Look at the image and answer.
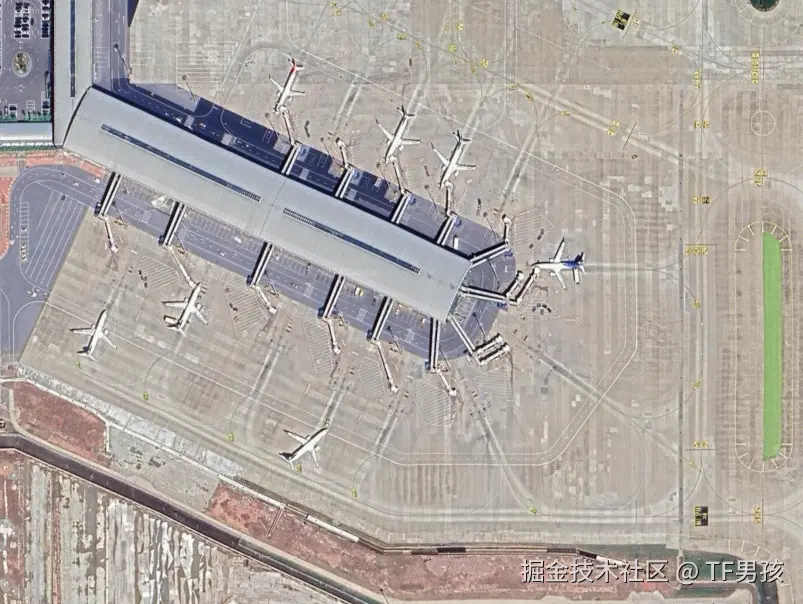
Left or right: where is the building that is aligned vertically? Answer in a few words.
left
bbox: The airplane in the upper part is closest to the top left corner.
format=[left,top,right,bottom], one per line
[265,60,311,111]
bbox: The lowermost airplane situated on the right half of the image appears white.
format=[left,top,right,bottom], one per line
[532,238,586,290]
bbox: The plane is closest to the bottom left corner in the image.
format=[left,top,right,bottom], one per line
[70,310,117,360]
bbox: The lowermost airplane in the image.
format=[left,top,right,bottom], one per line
[281,429,328,471]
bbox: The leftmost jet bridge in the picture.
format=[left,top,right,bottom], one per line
[95,173,124,253]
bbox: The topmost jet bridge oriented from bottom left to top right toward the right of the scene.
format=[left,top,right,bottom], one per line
[470,217,512,269]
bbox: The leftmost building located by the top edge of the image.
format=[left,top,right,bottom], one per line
[53,0,92,146]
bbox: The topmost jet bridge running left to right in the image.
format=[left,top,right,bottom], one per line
[459,267,540,309]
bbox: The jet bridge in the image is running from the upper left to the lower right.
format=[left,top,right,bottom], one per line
[449,315,511,366]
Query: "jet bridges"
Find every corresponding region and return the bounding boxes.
[95,173,124,253]
[390,155,415,225]
[279,104,306,176]
[159,202,197,289]
[246,241,277,313]
[449,315,511,366]
[424,317,456,395]
[459,267,540,309]
[366,297,398,392]
[470,217,512,269]
[336,139,360,200]
[437,181,461,246]
[318,273,347,353]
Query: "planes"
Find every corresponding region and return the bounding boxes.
[265,60,311,111]
[281,429,328,471]
[532,238,586,290]
[374,107,423,162]
[162,284,209,334]
[70,310,117,360]
[428,133,480,188]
